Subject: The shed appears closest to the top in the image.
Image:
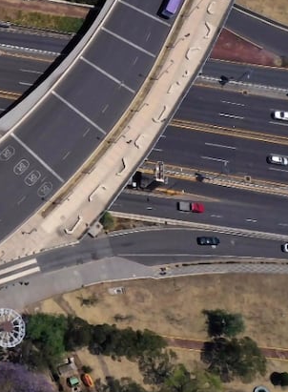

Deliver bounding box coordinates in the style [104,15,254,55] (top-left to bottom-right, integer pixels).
[54,351,81,378]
